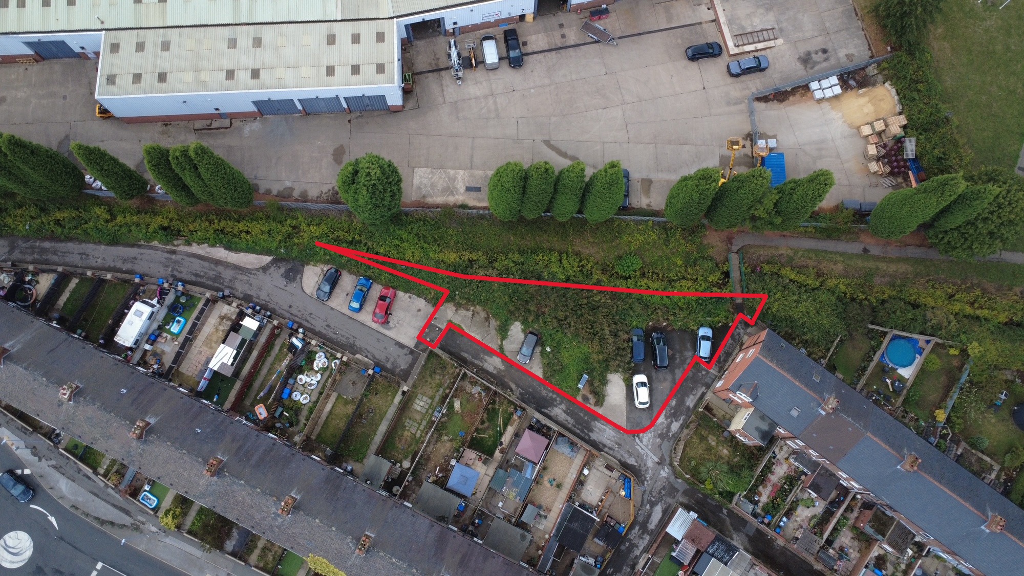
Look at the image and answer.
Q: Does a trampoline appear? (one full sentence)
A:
Yes, there's a trampoline down there.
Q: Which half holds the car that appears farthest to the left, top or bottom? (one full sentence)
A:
The car that appears farthest to the left sits in the bottom half of the picture.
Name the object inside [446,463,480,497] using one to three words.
gazebo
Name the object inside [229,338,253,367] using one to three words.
greenhouse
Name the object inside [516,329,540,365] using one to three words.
car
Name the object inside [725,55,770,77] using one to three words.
truck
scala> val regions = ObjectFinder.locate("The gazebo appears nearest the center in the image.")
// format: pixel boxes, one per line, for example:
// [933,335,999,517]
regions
[515,429,549,464]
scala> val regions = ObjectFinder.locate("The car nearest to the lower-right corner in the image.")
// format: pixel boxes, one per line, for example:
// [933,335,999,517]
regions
[696,326,715,361]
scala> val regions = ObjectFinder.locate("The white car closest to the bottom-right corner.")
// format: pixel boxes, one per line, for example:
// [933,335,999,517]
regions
[632,374,651,408]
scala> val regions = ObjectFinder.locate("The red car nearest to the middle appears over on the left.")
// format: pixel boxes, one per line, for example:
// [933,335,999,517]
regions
[371,286,396,325]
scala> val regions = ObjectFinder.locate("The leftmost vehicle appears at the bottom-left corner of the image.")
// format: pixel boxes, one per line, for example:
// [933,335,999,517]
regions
[0,467,35,503]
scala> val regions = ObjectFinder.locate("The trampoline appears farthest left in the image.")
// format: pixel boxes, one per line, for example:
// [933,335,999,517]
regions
[7,282,40,307]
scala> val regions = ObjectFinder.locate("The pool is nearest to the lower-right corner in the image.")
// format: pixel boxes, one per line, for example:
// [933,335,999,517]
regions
[879,335,917,370]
